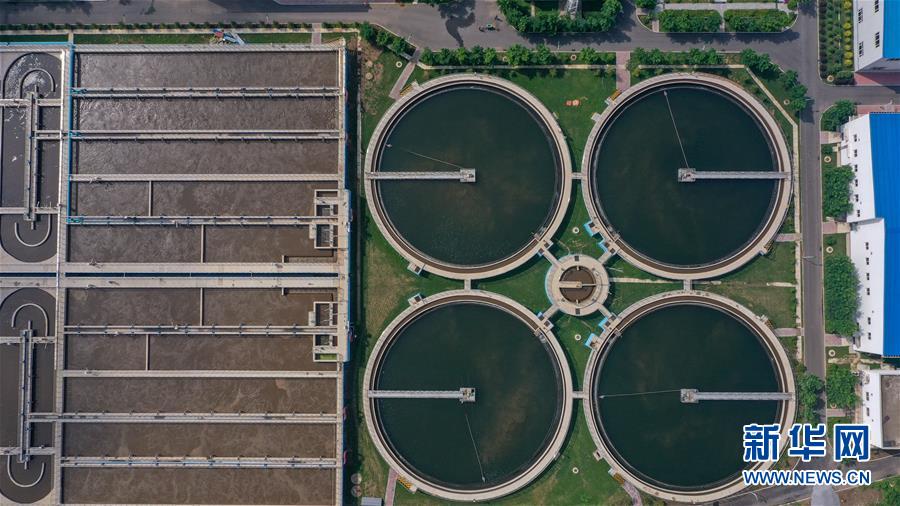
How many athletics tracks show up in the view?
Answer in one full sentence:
There are no athletics tracks in the image.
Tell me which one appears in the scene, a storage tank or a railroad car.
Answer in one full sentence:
Of the two, only a storage tank appears.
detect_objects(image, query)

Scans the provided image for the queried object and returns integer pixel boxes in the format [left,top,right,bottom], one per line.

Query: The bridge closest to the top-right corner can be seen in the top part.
[678,168,794,182]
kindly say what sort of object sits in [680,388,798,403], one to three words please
bridge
